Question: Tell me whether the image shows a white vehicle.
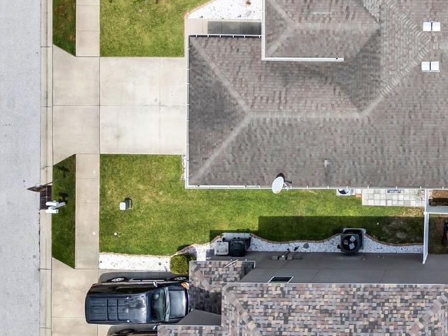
No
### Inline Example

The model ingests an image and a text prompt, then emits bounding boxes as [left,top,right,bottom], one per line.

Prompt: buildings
[157,252,448,336]
[186,0,448,190]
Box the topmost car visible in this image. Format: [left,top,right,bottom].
[87,275,194,329]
